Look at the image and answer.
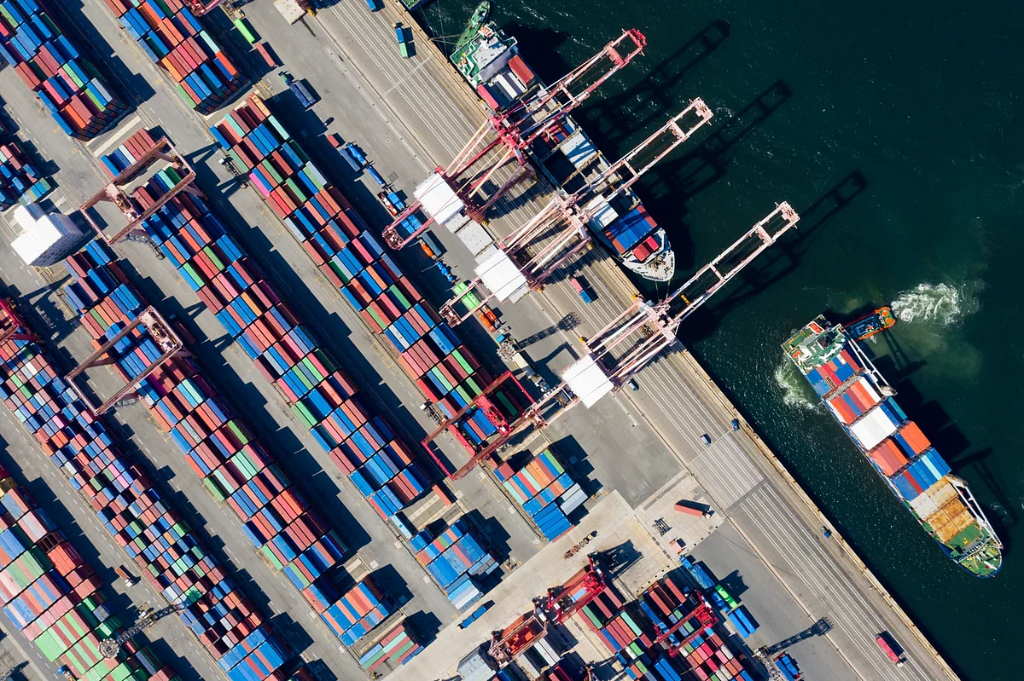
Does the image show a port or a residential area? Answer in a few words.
port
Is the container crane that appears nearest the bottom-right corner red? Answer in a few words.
Yes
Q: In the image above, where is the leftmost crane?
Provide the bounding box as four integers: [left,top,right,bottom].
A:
[0,295,54,345]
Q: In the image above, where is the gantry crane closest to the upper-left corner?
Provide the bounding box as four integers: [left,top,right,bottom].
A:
[78,133,216,248]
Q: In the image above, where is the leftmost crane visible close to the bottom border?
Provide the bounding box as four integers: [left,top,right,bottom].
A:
[485,592,552,674]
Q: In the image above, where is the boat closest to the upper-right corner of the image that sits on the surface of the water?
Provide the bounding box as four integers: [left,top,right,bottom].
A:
[842,311,893,342]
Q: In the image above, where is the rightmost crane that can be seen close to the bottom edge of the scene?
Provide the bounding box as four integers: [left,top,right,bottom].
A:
[654,578,719,659]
